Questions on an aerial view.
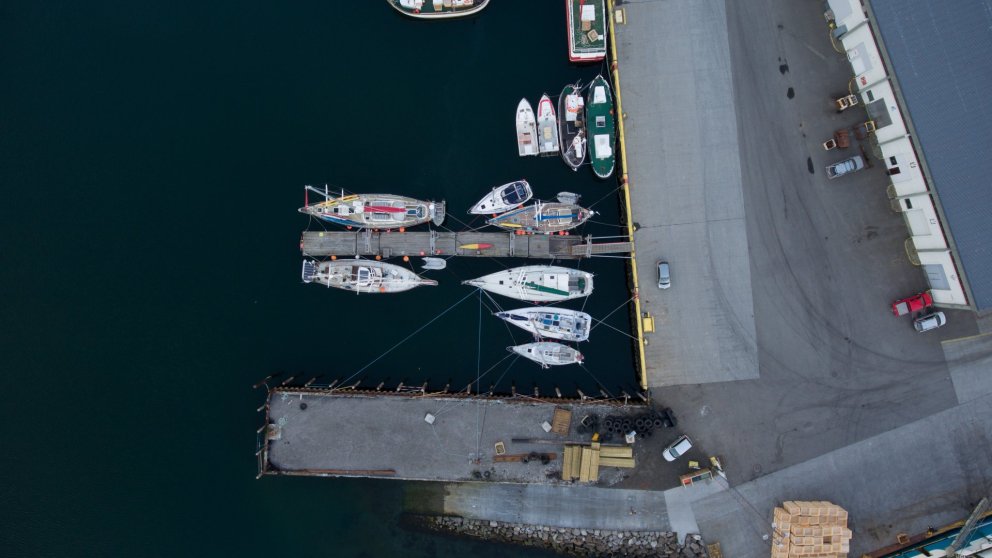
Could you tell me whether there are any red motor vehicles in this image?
Yes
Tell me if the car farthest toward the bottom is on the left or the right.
right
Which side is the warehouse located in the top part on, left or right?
right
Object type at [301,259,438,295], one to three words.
boat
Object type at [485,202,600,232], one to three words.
boat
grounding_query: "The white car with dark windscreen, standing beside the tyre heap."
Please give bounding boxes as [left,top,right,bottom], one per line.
[664,437,694,461]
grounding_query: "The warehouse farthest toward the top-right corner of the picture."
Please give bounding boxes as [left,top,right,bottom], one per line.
[830,0,992,311]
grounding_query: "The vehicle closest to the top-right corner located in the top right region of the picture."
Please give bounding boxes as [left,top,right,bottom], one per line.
[838,95,859,108]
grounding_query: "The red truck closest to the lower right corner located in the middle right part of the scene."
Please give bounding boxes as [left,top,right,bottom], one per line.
[894,292,935,314]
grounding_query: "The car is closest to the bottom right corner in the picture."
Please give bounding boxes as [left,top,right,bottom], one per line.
[914,313,948,332]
